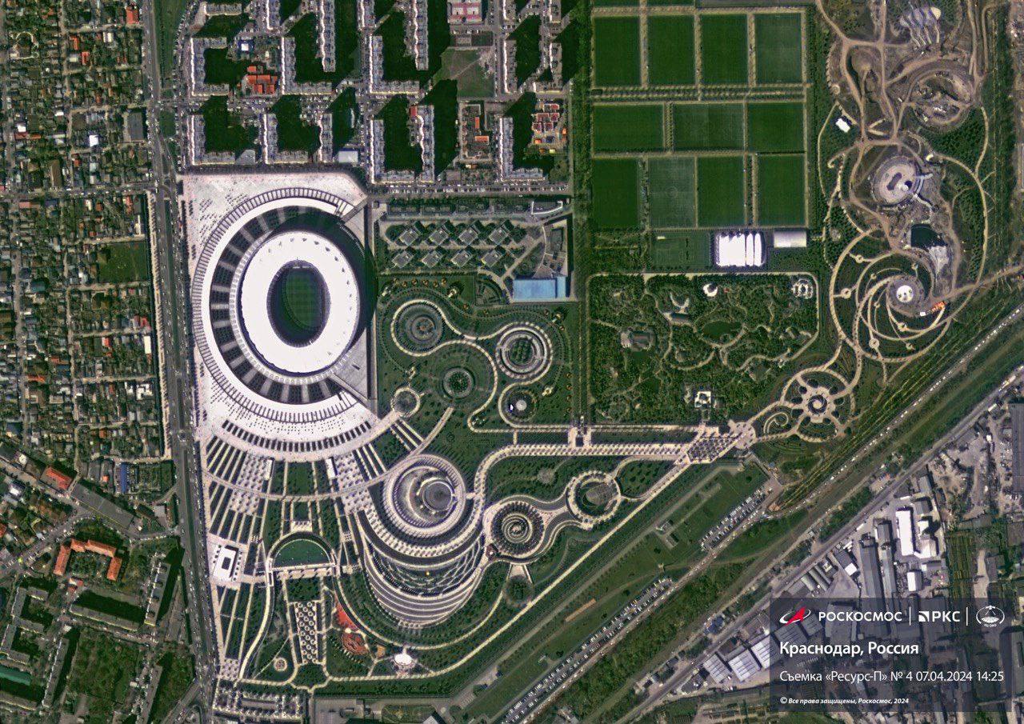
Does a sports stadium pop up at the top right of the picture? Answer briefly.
No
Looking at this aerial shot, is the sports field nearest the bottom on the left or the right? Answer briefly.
left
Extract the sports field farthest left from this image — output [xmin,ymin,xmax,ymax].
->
[273,267,322,342]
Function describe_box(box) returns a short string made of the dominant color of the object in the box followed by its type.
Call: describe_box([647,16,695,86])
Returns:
green soccer field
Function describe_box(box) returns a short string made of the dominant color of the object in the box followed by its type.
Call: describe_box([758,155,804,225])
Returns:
green soccer field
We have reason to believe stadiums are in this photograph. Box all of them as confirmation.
[202,196,365,413]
